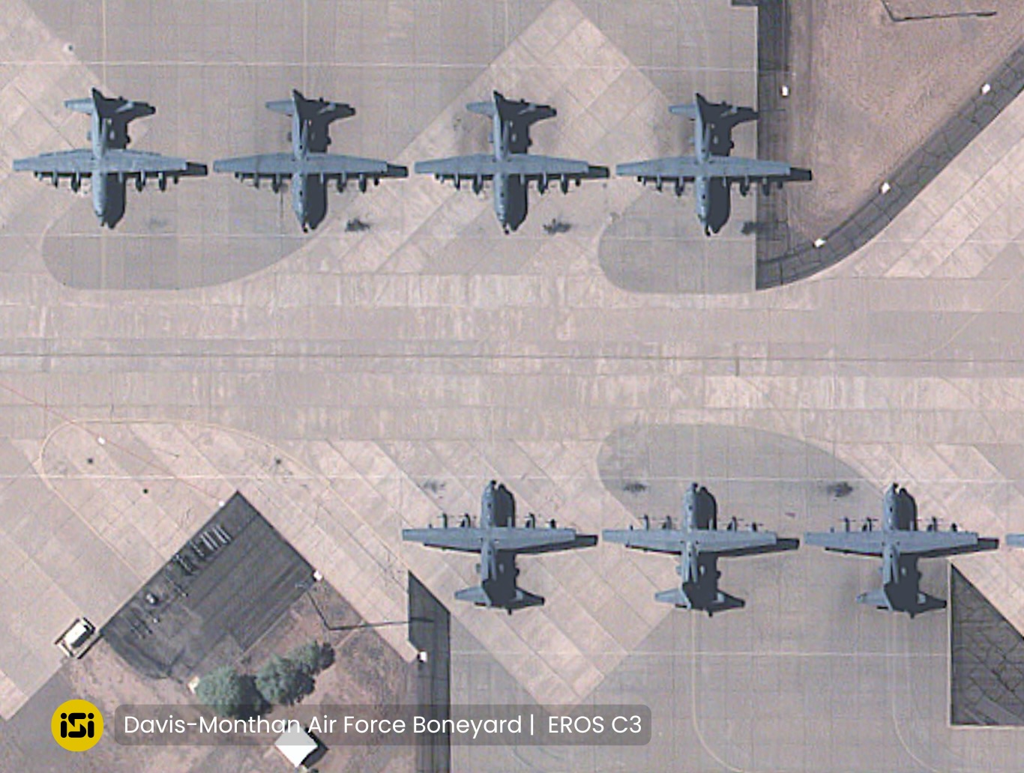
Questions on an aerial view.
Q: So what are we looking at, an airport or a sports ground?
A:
airport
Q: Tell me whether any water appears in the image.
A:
No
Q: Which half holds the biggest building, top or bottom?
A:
bottom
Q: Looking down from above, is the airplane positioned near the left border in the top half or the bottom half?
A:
top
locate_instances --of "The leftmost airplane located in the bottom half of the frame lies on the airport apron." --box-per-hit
[402,480,576,610]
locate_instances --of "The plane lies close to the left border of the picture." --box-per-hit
[11,87,185,225]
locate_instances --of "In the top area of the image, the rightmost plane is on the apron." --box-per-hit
[615,92,789,235]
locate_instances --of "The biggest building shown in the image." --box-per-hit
[273,723,317,768]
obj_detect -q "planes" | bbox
[602,482,776,611]
[804,484,978,614]
[11,87,185,225]
[402,480,576,610]
[615,92,789,235]
[212,88,386,232]
[414,89,588,233]
[1006,535,1024,548]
